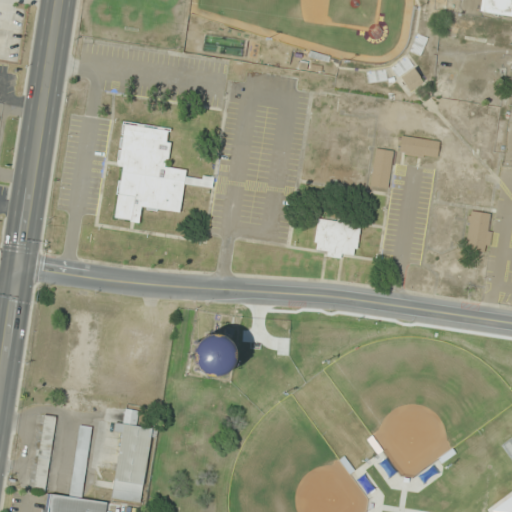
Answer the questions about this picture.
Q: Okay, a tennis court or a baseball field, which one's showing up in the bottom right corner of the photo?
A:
baseball field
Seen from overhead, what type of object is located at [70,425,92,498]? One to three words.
shed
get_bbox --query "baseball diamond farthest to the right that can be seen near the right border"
[324,337,512,478]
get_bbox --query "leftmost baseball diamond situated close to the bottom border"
[229,394,368,512]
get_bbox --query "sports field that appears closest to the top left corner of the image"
[90,0,178,30]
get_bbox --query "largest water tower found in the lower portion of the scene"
[192,328,242,382]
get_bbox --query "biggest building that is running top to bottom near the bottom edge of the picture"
[112,410,152,504]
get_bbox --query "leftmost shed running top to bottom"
[36,415,56,490]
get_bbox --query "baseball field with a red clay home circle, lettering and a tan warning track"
[190,0,415,62]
